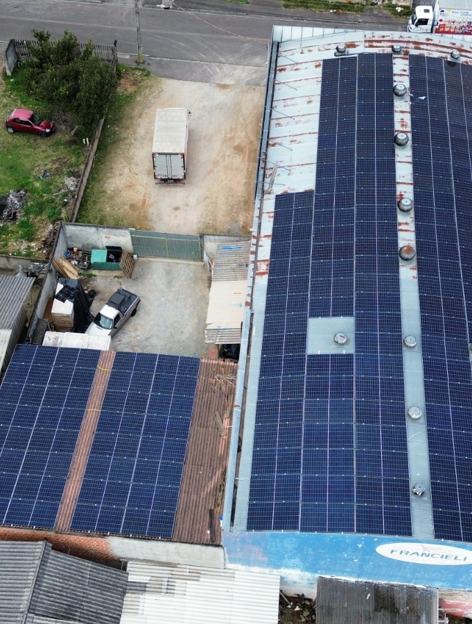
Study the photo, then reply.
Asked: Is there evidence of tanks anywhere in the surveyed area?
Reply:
No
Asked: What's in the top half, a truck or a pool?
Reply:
truck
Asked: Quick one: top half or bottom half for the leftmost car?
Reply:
top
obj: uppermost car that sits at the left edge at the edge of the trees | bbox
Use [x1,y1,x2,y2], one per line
[2,107,55,138]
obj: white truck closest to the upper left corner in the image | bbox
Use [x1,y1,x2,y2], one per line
[153,107,193,185]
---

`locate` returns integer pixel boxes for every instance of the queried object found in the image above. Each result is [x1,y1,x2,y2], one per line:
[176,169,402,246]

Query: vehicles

[153,107,193,185]
[2,107,55,138]
[86,285,145,346]
[407,0,472,35]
